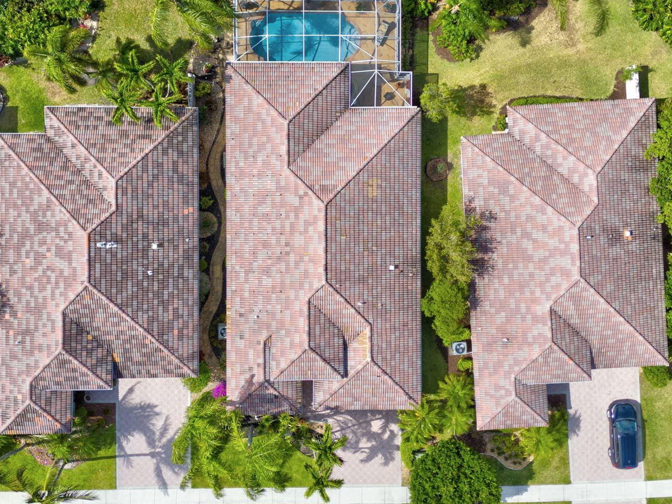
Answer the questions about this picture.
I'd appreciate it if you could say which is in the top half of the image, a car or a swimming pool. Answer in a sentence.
It is a swimming pool that can be seen in the top half of the image.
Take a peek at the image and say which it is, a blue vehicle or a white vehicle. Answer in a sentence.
Looking from above, you can make out a blue vehicle.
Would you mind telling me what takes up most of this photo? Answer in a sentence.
For the most part, this view shows buildings.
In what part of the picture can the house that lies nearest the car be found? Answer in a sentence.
The house that lies nearest the car appears toward the right of the photo.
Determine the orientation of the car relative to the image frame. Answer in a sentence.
The car has been laid out vertically relative to the frame.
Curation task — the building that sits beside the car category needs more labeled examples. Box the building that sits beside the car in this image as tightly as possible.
[460,97,671,431]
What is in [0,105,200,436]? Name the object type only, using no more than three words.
house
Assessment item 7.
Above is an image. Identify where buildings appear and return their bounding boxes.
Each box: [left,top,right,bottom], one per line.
[0,105,200,436]
[225,61,423,416]
[460,97,671,431]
